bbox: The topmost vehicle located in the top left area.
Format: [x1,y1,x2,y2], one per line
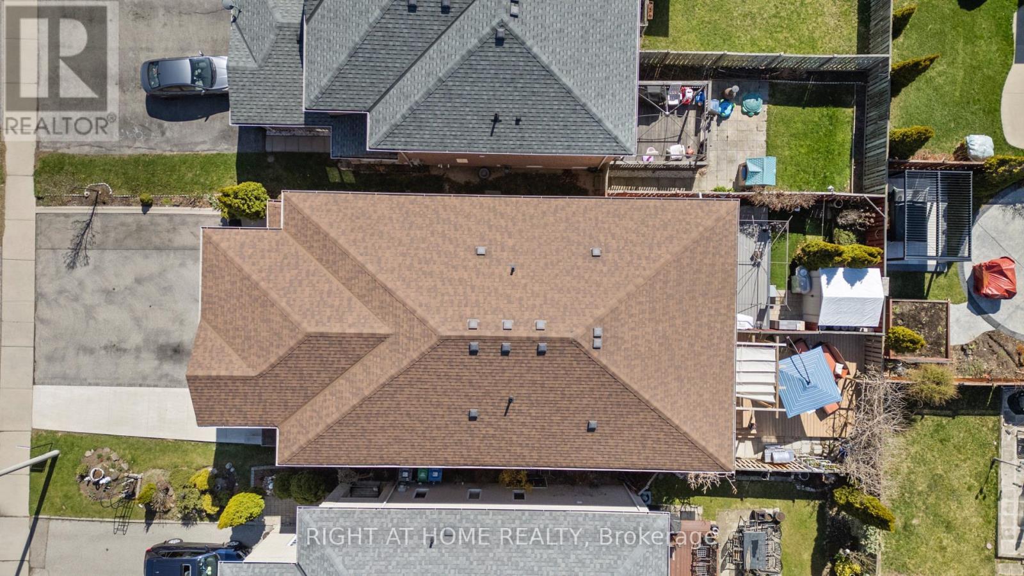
[143,52,230,100]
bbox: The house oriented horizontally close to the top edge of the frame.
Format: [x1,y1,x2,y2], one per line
[227,0,637,169]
